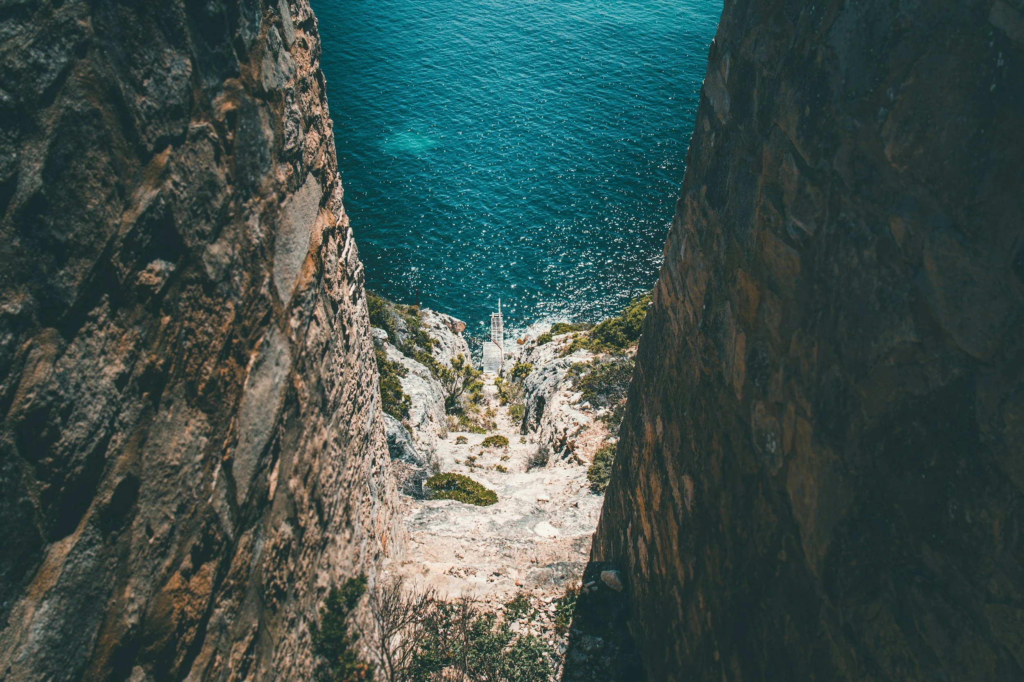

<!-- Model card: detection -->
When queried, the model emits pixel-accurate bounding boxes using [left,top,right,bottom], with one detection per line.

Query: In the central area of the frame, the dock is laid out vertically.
[482,296,504,373]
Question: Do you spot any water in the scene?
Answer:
Yes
